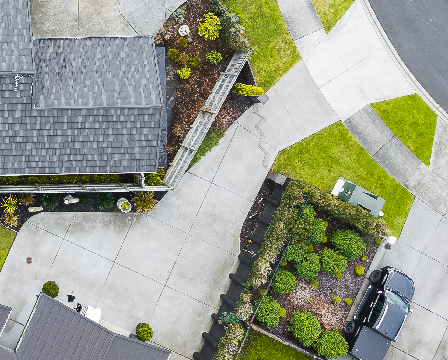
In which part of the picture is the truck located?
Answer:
bottom right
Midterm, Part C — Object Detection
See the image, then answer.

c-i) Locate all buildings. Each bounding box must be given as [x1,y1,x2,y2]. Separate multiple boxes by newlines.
[0,292,173,360]
[0,0,164,179]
